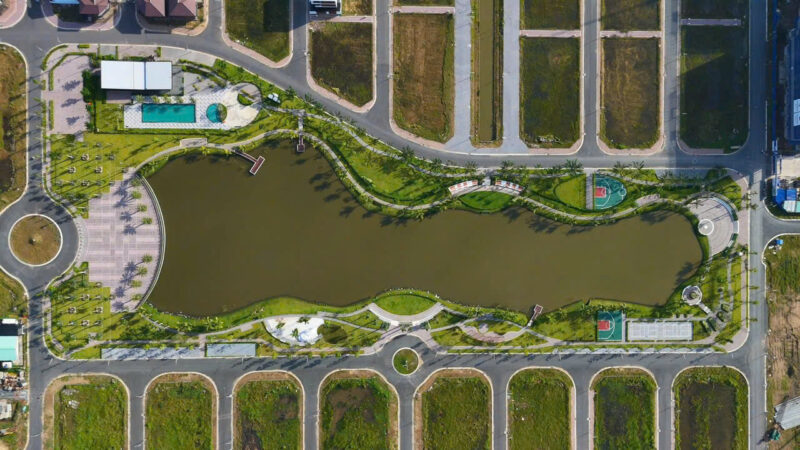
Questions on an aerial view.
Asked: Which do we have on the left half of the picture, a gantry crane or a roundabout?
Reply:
roundabout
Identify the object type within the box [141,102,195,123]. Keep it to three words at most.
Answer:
swimming pool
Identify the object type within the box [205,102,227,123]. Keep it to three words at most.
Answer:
swimming pool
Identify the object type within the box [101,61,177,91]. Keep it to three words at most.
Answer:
building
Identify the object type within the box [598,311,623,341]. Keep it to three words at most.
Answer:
basketball court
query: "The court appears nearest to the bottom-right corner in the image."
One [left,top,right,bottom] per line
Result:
[628,322,693,341]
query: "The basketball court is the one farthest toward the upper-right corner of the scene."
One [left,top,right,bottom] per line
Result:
[595,174,627,209]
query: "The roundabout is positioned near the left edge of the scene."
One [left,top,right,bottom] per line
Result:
[9,213,62,266]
